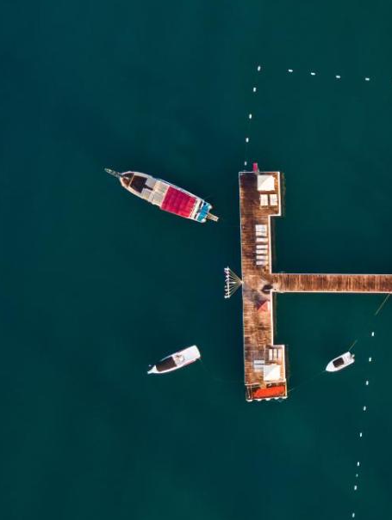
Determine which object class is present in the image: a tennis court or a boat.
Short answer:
boat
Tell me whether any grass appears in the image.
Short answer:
No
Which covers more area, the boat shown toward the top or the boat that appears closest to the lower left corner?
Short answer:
the boat shown toward the top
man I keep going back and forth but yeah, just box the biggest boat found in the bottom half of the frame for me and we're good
[144,345,201,375]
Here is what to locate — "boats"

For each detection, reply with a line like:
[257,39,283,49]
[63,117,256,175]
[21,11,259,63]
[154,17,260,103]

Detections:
[144,345,201,375]
[325,353,356,372]
[106,169,219,224]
